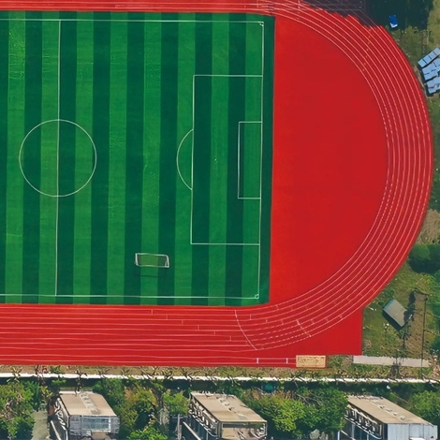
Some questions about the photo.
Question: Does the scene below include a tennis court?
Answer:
No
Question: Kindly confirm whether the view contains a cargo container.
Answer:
No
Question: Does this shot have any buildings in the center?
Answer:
No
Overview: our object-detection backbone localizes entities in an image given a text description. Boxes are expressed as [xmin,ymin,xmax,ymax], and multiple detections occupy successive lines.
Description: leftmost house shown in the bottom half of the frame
[53,395,119,440]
